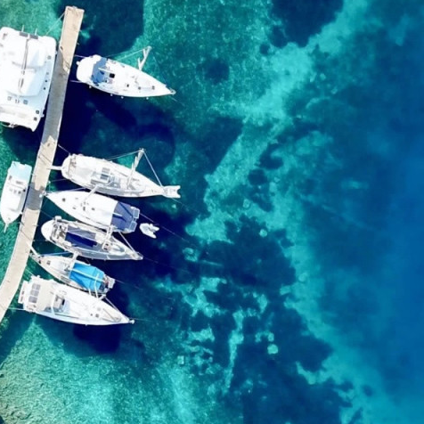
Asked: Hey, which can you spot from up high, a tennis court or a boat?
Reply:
boat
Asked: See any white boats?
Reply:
Yes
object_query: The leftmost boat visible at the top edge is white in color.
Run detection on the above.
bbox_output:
[0,13,65,138]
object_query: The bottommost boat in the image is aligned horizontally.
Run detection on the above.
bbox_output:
[1,275,141,329]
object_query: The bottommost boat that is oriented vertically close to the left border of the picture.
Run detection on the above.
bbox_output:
[1,161,36,233]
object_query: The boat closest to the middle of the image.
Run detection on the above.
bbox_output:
[164,186,180,198]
